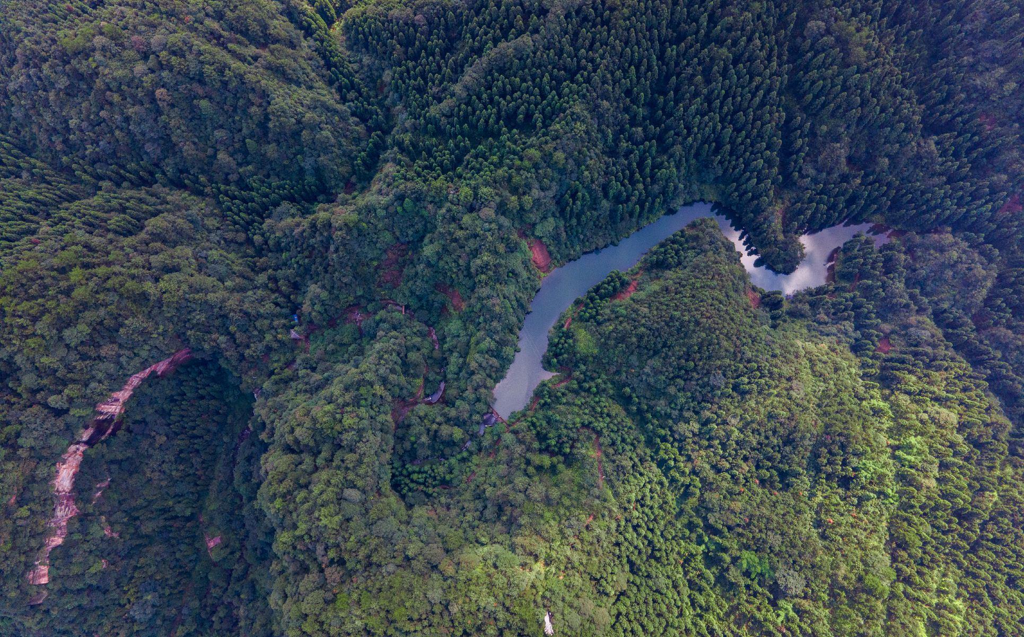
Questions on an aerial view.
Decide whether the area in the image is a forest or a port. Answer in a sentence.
This looks like a forest.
